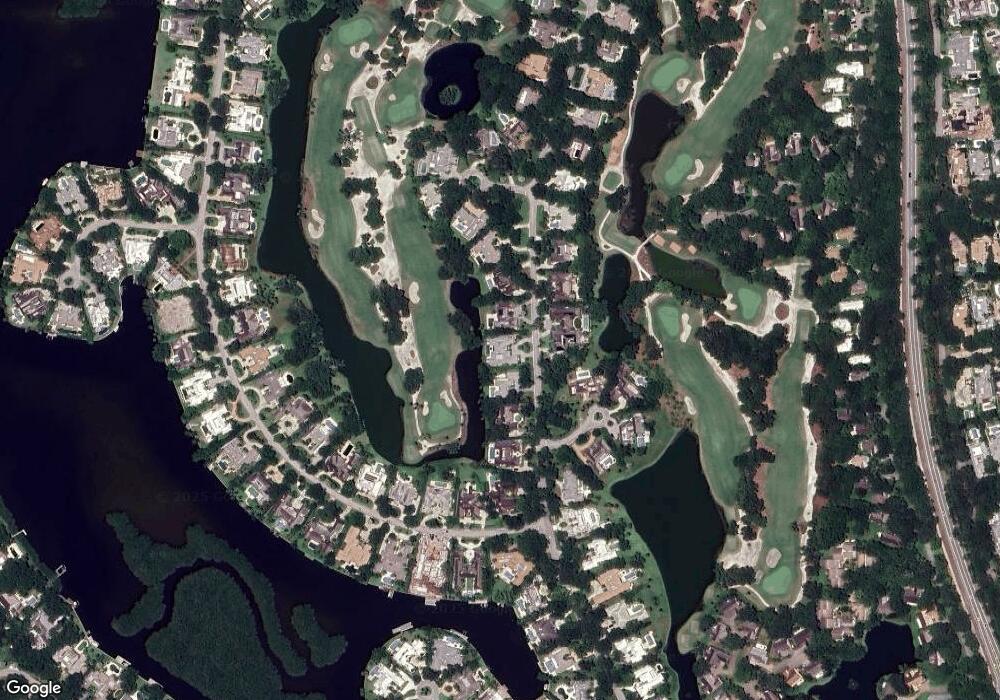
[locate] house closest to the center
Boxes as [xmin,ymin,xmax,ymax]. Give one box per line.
[481,332,521,366]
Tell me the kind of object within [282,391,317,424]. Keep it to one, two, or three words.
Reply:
house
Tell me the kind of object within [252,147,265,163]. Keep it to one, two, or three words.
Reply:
swimming pool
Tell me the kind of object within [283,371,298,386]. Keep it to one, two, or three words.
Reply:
swimming pool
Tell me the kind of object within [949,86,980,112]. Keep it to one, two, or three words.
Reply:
house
